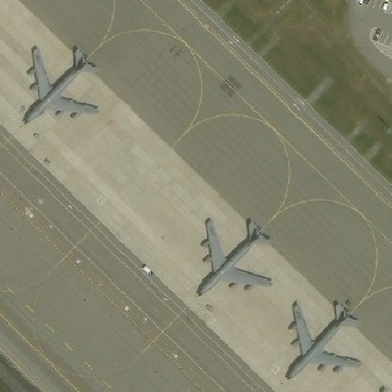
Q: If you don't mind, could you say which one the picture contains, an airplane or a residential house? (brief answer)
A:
airplane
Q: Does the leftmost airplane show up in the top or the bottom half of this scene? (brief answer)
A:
top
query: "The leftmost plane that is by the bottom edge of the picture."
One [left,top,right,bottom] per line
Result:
[287,302,362,378]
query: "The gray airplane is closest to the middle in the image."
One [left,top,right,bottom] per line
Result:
[199,220,273,295]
